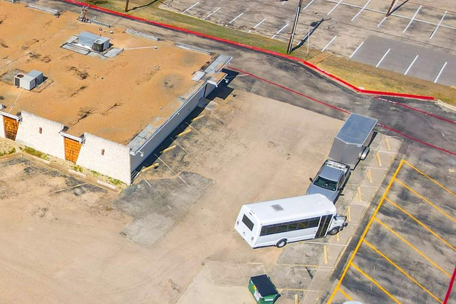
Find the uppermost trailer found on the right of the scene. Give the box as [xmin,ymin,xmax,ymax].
[327,113,375,164]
